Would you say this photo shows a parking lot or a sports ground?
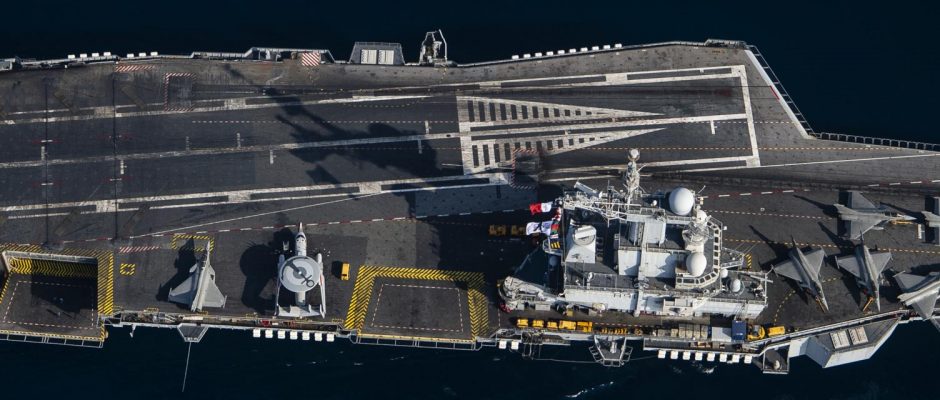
parking lot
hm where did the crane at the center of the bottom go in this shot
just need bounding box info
[493,276,563,318]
